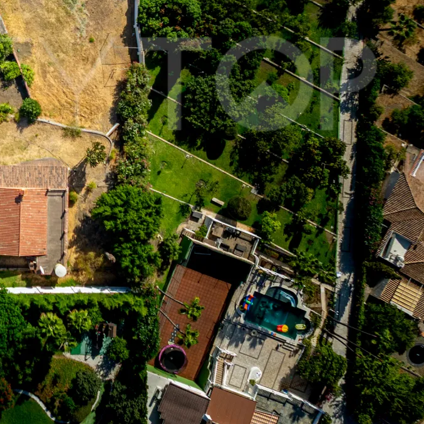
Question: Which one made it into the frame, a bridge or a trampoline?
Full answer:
I can see a trampoline in this picture.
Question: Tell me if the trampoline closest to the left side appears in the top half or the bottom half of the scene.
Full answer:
It is in the bottom half that the trampoline closest to the left side appears.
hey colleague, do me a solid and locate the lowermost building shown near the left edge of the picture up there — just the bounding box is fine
[0,164,68,256]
